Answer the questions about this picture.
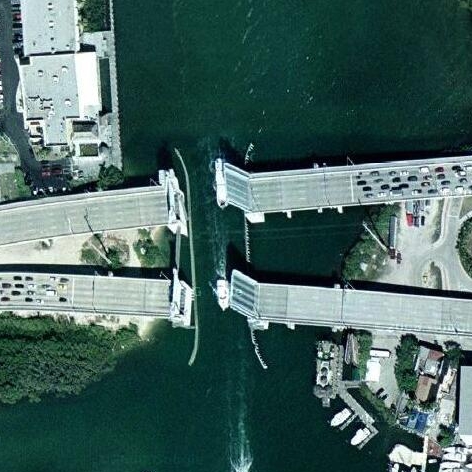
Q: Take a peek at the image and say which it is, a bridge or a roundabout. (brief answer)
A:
bridge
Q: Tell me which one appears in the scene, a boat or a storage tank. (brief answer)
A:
boat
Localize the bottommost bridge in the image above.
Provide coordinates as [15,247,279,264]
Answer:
[0,268,472,336]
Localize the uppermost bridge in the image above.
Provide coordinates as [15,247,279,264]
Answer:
[0,155,472,244]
